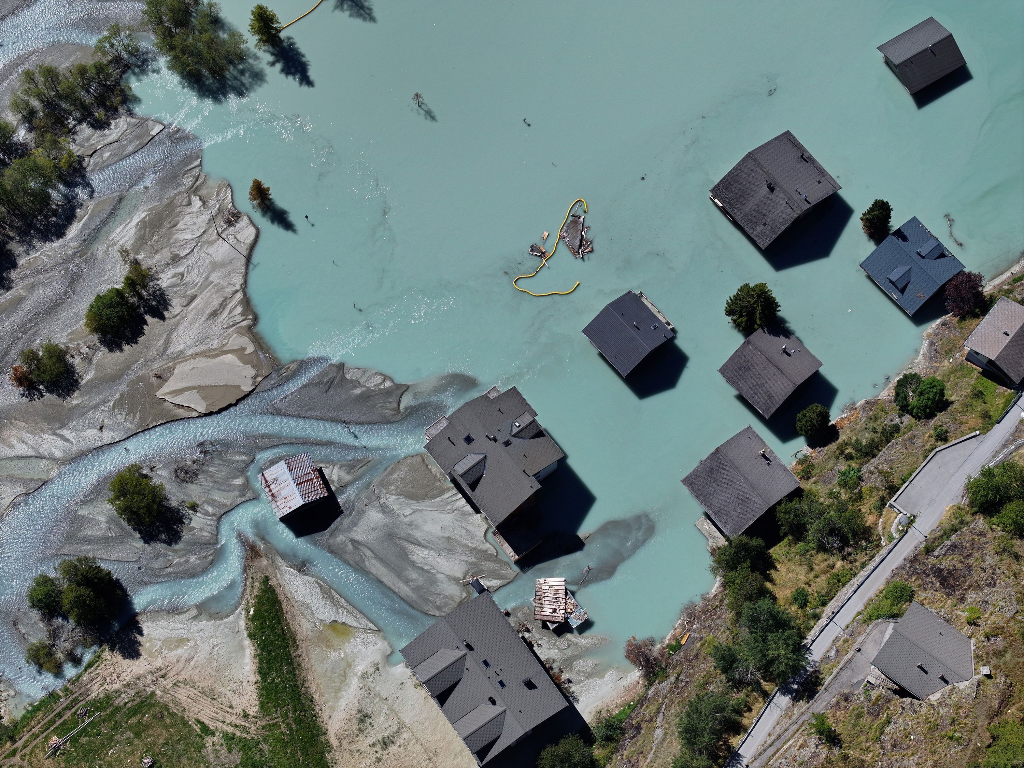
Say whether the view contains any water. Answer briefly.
Yes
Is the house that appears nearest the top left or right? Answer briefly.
right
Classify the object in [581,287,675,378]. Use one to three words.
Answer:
house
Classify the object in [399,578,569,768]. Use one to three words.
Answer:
house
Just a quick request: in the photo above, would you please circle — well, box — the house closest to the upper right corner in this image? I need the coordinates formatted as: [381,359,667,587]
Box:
[876,16,967,96]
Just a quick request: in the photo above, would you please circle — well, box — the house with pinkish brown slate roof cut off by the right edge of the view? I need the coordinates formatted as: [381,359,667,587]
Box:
[956,295,1024,389]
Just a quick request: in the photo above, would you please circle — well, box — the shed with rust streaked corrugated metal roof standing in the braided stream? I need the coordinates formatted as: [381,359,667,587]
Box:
[258,452,328,519]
